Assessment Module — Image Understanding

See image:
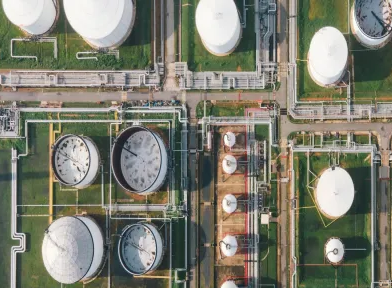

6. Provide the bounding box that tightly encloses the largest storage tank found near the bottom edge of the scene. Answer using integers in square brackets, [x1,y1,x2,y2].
[41,213,105,284]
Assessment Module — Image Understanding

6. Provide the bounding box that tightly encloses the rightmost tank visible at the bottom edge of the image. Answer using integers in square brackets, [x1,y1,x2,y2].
[117,221,164,276]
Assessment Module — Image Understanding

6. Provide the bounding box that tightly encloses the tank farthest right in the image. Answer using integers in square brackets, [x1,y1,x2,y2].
[349,0,392,50]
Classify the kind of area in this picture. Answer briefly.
industrial area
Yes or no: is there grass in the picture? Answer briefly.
Yes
